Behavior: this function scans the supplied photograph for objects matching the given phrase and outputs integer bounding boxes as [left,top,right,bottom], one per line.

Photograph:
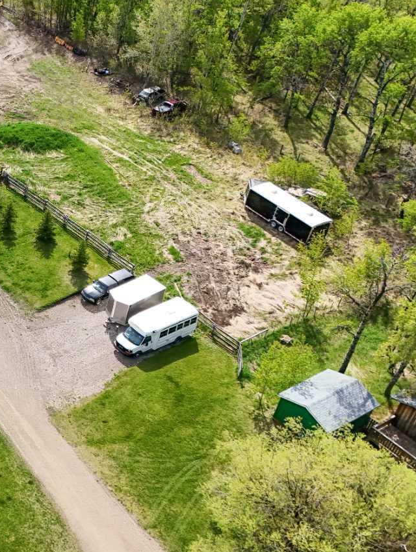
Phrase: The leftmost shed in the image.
[277,370,378,442]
